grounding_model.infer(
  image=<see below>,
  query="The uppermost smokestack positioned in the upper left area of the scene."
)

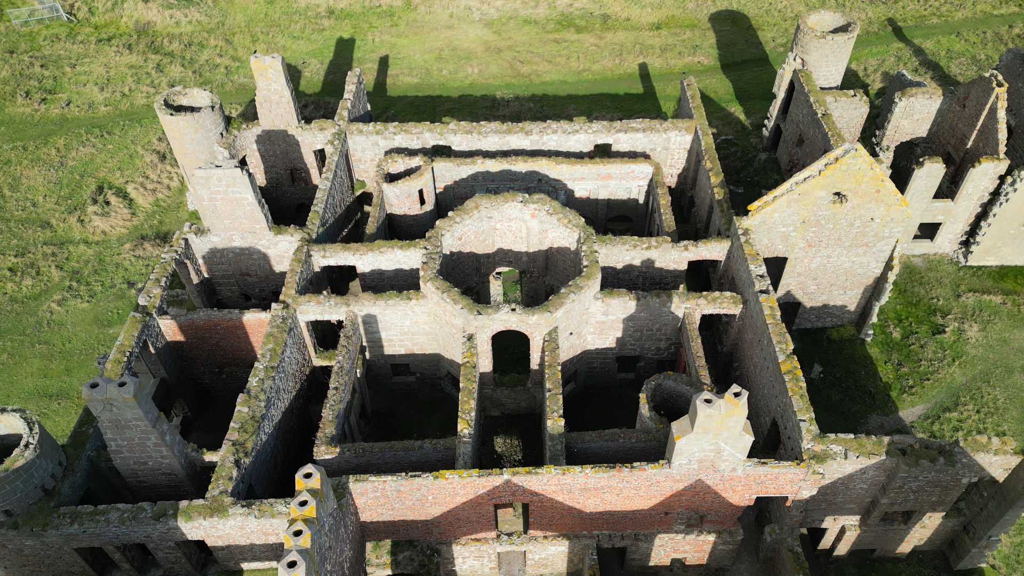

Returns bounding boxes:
[254,50,304,134]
